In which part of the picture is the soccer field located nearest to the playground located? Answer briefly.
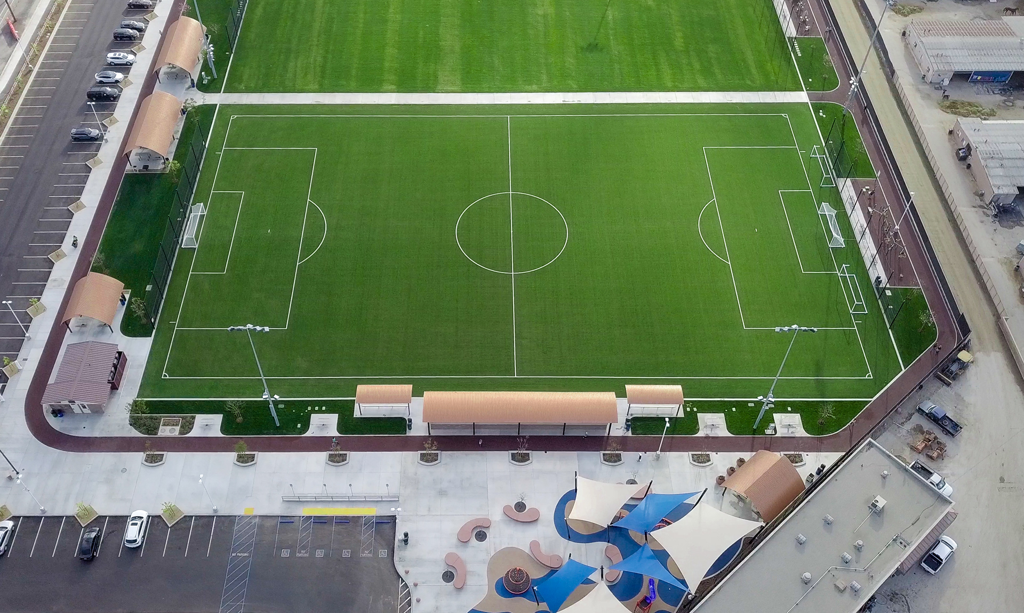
center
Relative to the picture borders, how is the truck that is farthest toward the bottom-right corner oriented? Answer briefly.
at an angle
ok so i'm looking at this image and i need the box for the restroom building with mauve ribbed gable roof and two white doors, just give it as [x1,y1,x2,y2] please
[40,339,120,413]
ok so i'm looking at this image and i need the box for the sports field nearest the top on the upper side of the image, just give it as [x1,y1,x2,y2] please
[220,0,807,93]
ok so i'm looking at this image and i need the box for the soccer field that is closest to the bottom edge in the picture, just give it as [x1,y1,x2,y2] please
[136,91,906,401]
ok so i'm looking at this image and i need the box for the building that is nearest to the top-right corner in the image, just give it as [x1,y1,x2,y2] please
[903,26,1024,84]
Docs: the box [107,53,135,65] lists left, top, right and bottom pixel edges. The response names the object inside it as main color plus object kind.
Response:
white vehicle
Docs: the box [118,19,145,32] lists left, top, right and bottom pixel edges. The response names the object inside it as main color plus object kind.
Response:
gray vehicle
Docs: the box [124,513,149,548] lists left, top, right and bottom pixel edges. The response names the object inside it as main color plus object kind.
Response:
white car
